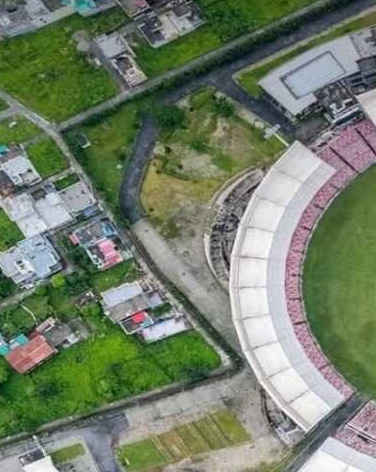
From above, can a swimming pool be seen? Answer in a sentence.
No, the photo shows no swimming pool.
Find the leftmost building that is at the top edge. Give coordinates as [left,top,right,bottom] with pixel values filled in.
[0,4,38,40]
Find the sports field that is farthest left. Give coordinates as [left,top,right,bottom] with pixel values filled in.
[118,437,171,472]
